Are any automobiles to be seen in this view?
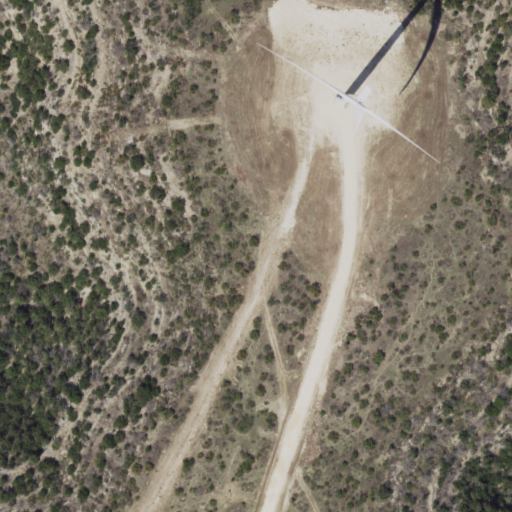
No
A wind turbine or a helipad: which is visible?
wind turbine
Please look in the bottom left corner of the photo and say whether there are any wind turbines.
No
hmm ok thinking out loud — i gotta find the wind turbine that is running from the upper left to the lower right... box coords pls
[255,41,442,164]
